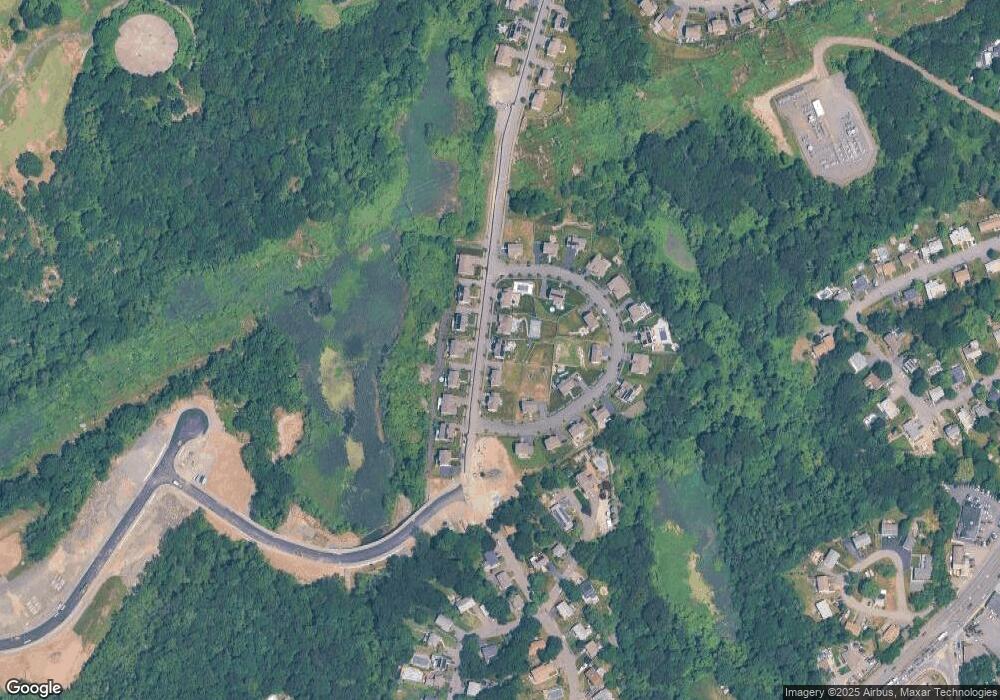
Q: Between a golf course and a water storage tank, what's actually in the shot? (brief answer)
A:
water storage tank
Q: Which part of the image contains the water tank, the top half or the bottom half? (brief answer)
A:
top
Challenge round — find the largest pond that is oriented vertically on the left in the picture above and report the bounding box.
[269,229,409,529]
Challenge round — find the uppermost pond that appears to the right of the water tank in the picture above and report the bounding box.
[395,54,459,217]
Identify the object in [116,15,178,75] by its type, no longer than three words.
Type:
water tank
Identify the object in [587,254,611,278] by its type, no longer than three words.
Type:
house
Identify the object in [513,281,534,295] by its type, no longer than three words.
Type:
swimming pool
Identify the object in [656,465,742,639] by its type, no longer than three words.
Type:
pond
